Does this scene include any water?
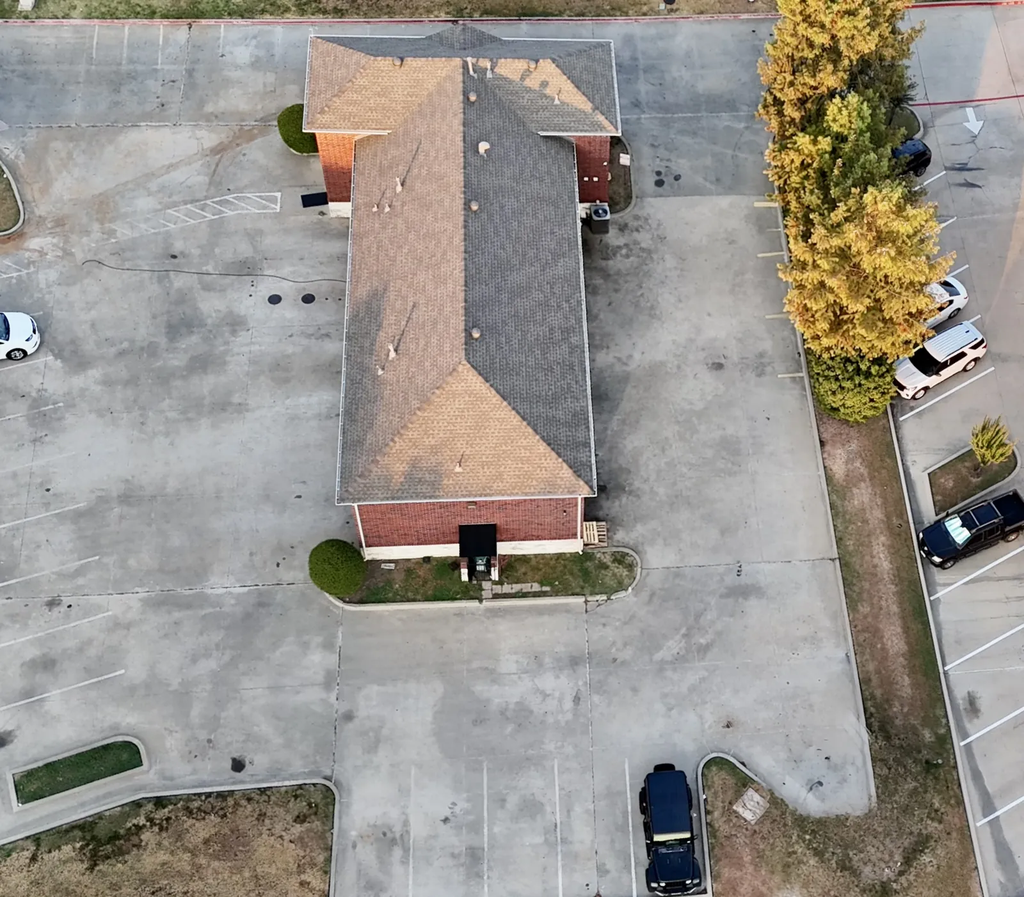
No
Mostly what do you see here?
paved ground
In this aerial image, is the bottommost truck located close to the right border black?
Yes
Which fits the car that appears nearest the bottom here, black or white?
black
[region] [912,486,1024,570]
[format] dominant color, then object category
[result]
black truck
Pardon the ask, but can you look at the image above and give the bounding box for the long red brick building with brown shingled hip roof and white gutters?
[303,21,621,579]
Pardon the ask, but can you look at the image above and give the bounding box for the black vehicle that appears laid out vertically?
[639,760,699,892]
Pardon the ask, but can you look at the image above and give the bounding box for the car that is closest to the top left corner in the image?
[0,317,40,362]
